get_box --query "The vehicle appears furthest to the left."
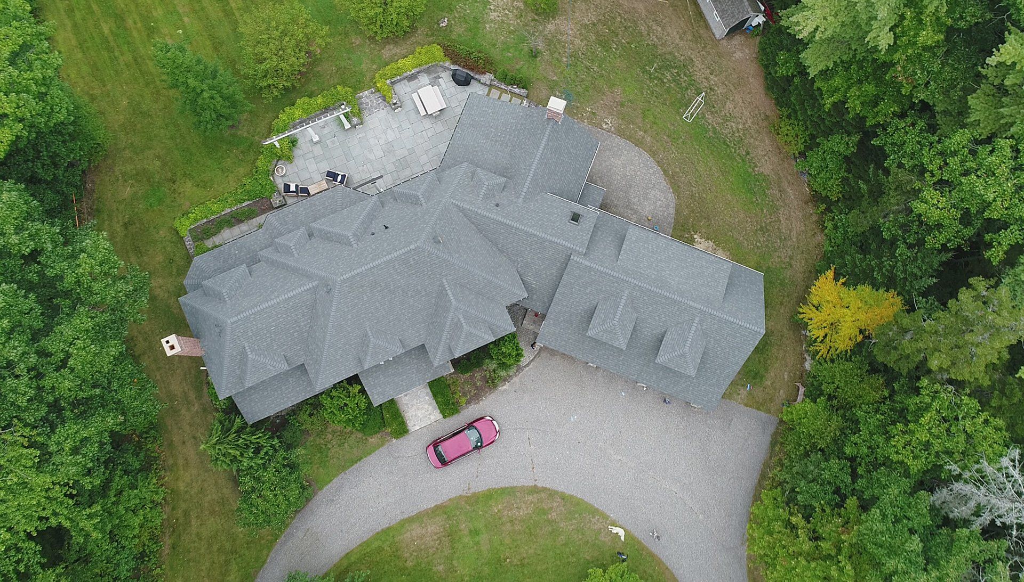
[425,419,501,468]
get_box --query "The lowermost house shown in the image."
[161,93,765,424]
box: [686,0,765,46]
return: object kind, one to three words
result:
shed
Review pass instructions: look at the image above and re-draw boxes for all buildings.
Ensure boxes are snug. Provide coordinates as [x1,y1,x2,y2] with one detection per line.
[686,0,765,46]
[161,93,765,424]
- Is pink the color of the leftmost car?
Yes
